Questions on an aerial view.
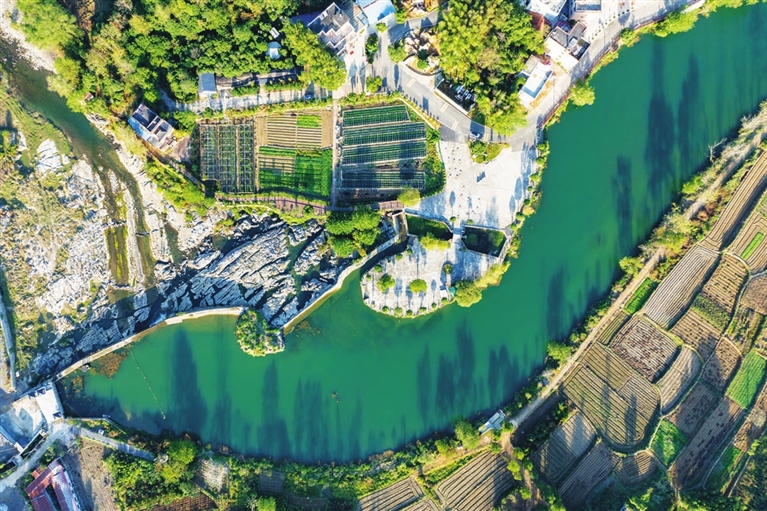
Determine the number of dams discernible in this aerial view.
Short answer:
two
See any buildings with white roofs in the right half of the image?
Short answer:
Yes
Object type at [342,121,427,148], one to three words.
house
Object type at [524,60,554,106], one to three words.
building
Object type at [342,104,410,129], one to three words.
house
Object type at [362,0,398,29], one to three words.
building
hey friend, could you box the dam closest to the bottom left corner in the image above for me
[53,309,247,383]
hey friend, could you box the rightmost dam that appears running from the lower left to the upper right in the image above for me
[284,242,394,332]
